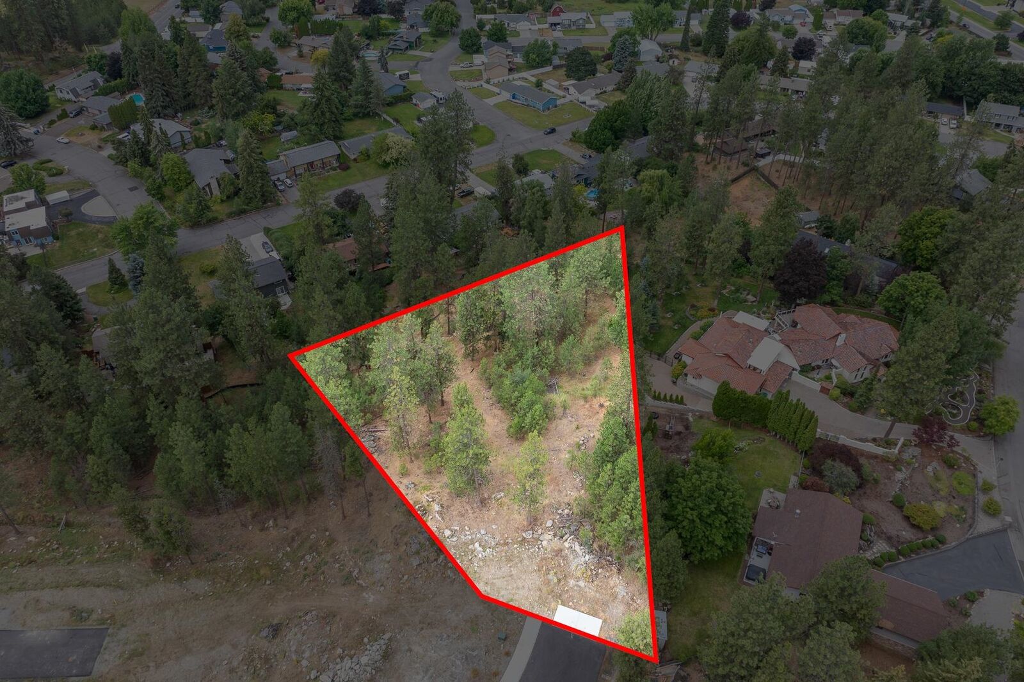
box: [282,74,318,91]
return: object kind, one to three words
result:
house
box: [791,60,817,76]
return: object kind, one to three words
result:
shed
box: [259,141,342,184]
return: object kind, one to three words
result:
house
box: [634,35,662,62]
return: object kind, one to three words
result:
barn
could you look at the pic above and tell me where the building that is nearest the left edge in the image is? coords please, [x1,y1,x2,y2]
[0,198,61,254]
